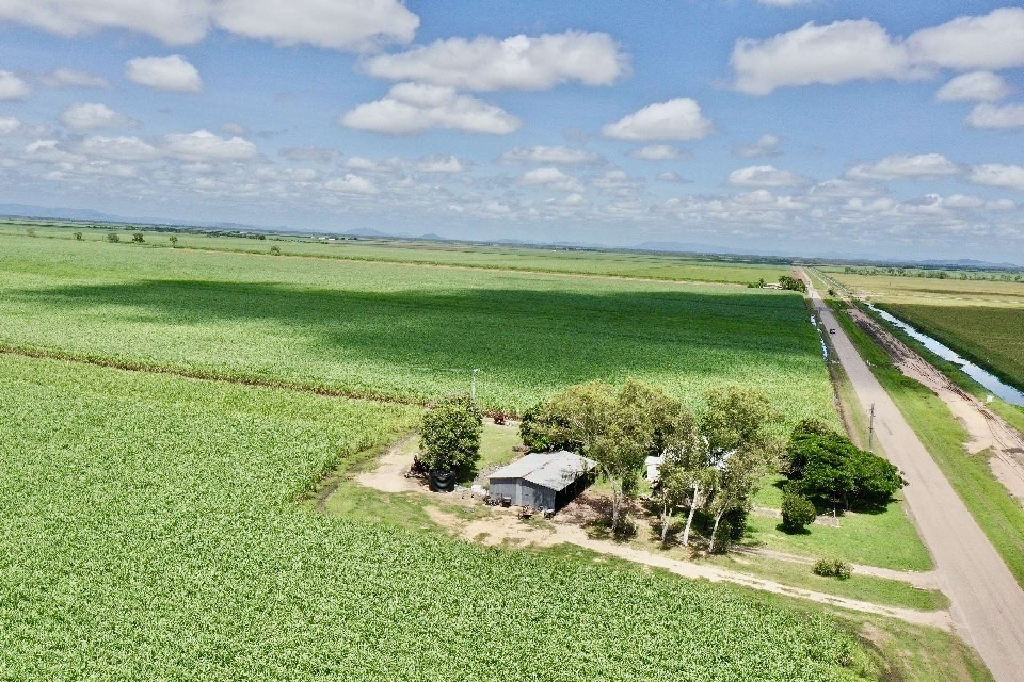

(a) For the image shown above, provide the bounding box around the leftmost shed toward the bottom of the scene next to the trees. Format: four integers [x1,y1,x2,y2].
[487,453,594,514]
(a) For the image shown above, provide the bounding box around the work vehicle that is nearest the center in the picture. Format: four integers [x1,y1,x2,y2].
[494,413,507,425]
